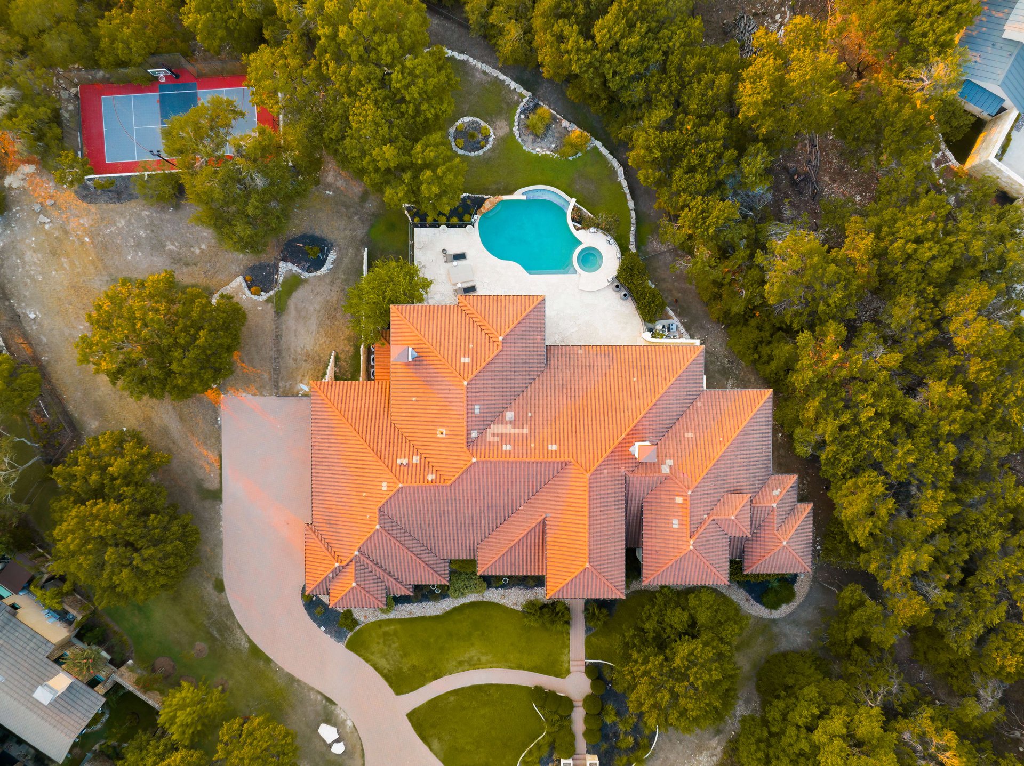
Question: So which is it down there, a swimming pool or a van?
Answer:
swimming pool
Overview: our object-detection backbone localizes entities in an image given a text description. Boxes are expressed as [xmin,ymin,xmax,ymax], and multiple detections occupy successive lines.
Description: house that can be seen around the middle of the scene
[303,294,814,610]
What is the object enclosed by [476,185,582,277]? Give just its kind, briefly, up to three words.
swimming pool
